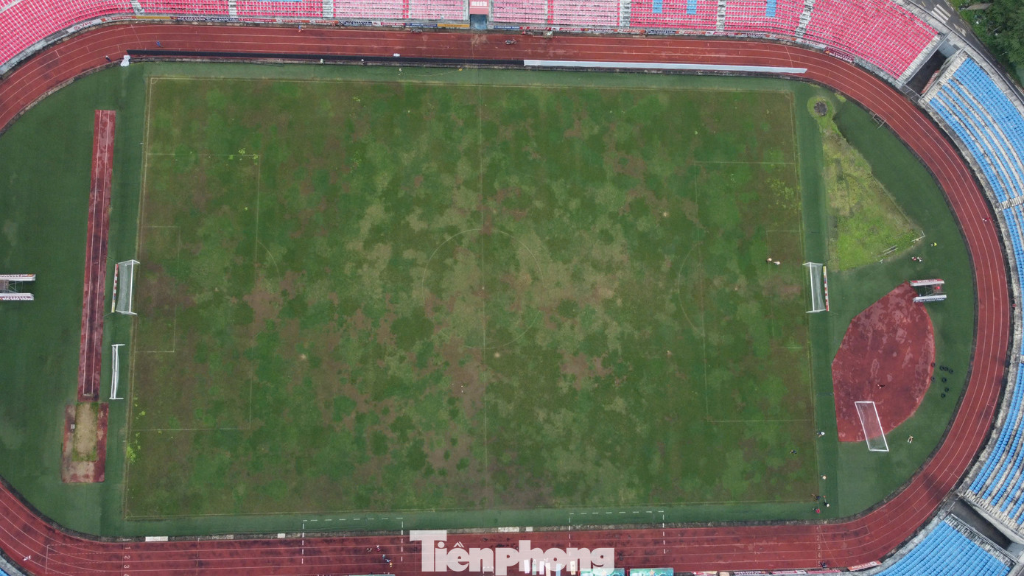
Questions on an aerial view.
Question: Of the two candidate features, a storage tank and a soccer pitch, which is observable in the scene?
soccer pitch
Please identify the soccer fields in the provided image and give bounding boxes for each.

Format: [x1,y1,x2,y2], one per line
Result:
[120,76,824,520]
